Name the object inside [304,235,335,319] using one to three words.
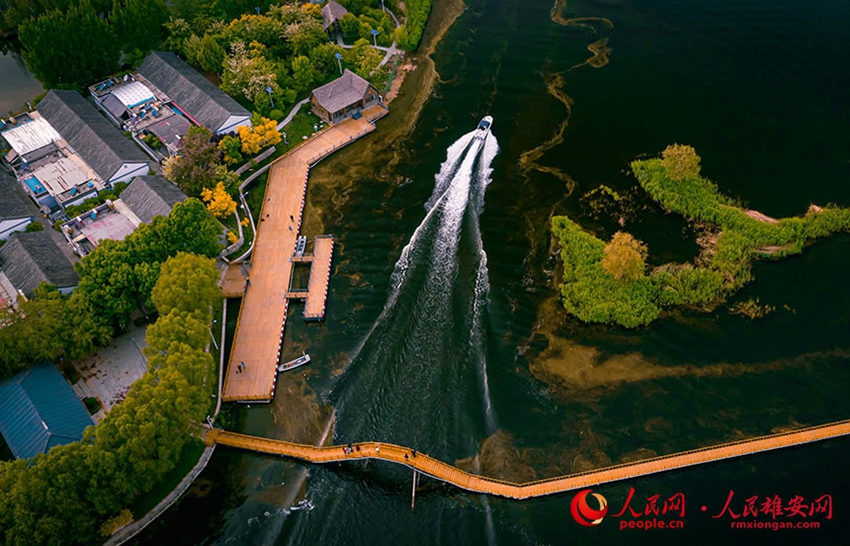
pier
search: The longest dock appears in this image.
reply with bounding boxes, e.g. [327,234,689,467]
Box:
[222,100,389,404]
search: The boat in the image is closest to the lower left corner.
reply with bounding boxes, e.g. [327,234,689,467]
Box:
[279,350,312,372]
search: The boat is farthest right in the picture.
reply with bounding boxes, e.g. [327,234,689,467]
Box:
[474,113,491,141]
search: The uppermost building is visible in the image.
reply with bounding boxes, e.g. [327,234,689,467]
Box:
[318,0,352,37]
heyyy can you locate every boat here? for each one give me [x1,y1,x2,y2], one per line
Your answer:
[297,236,308,255]
[279,350,312,372]
[474,113,491,141]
